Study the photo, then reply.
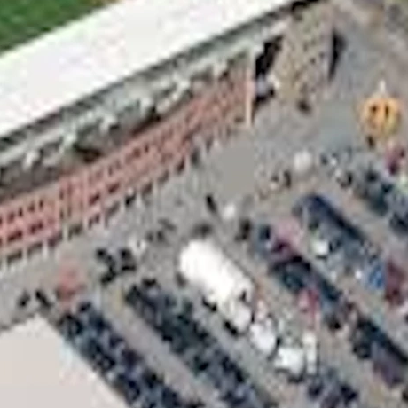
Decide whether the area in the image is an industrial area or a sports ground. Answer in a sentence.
This image shows a sports ground.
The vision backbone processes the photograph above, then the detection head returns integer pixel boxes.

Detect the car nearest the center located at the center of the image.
[195,195,219,210]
